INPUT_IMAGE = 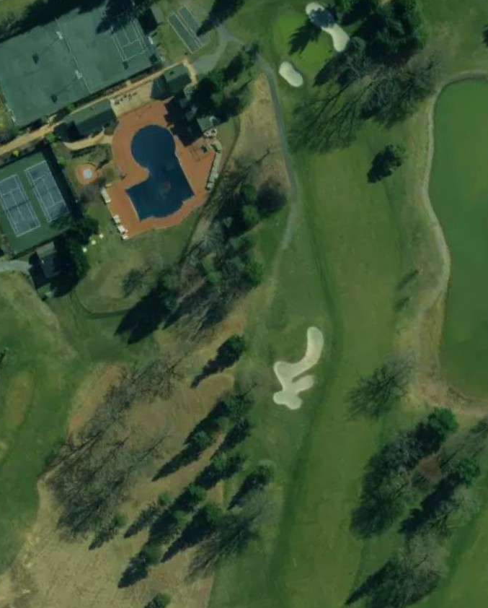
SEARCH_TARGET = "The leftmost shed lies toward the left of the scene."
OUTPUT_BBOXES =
[27,250,60,287]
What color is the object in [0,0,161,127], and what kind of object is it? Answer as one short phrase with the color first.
green sports court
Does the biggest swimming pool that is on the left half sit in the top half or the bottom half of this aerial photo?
top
